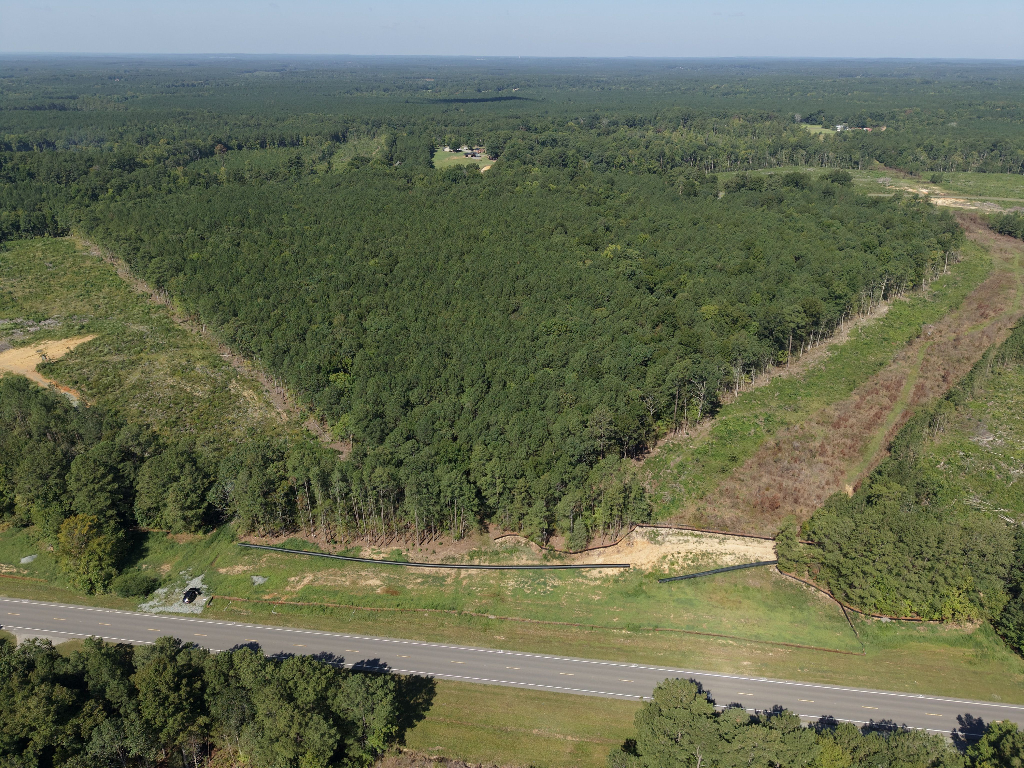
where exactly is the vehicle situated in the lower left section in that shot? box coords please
[183,586,202,604]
